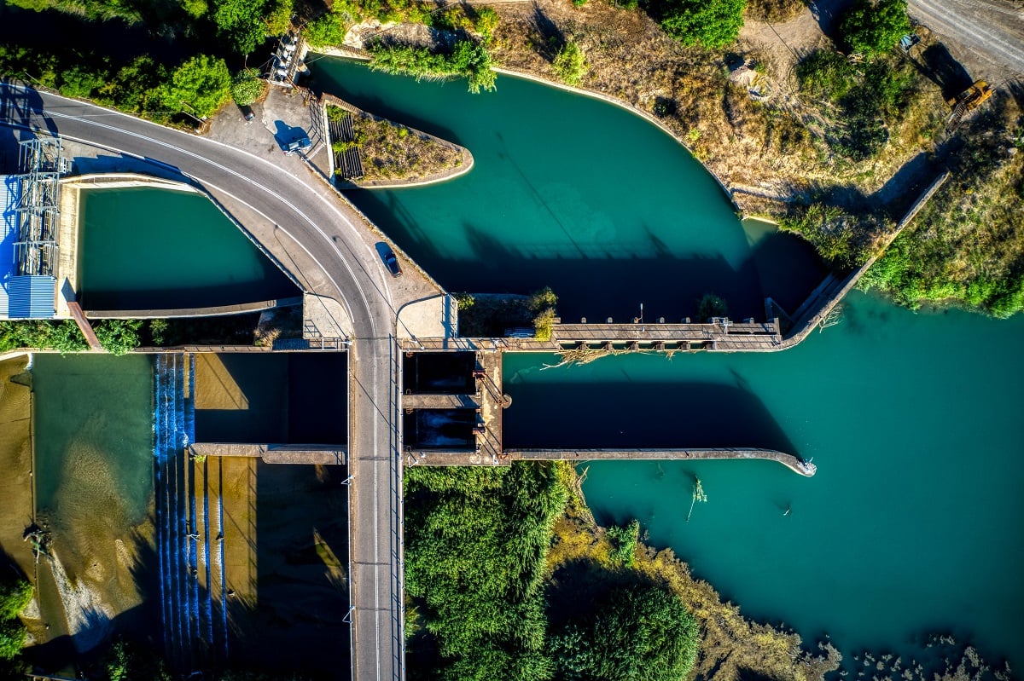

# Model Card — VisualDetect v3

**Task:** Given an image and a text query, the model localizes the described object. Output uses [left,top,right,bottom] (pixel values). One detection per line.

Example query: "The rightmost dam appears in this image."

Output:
[551,317,780,352]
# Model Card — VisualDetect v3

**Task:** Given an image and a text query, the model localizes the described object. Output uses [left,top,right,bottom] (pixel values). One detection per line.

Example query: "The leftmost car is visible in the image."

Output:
[279,135,312,156]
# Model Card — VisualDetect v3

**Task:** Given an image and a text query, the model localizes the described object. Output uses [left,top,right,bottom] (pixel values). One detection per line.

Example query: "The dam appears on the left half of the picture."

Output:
[156,351,406,681]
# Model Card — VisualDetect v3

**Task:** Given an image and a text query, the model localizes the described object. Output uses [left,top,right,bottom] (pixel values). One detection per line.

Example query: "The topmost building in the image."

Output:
[262,30,321,91]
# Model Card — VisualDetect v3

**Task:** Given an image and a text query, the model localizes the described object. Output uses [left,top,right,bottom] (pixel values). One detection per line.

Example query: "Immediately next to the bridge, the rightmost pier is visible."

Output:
[502,446,815,477]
